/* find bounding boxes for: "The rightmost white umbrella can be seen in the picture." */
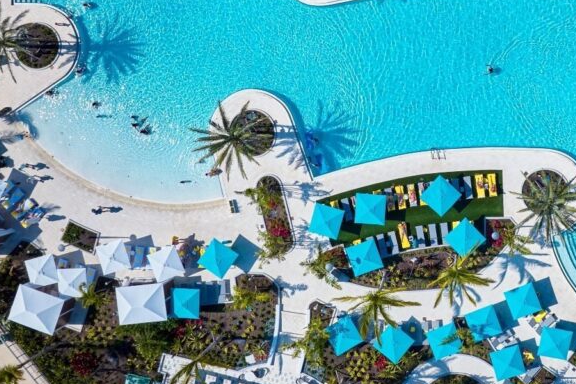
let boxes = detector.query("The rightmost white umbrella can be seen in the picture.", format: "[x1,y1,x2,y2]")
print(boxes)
[147,246,185,282]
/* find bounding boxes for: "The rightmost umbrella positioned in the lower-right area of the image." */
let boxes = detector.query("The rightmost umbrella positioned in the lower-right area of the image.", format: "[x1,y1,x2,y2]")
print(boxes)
[537,326,573,361]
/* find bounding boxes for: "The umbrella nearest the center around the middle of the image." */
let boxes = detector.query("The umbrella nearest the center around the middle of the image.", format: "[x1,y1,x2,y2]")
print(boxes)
[308,203,344,239]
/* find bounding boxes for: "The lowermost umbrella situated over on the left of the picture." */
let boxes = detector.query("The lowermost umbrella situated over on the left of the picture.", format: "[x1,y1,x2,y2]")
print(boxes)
[172,289,201,317]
